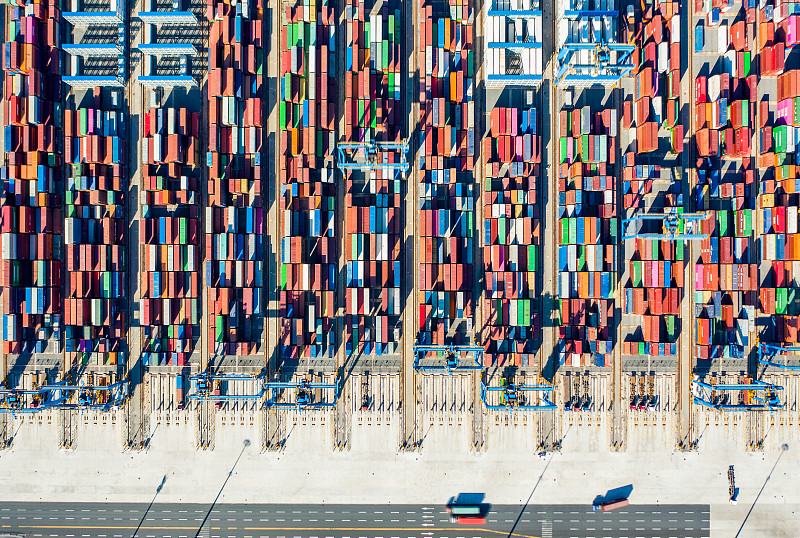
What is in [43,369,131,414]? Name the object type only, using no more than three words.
container crane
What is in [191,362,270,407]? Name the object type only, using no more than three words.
container crane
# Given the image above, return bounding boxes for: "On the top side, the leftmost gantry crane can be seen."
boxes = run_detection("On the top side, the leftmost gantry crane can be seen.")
[338,137,410,182]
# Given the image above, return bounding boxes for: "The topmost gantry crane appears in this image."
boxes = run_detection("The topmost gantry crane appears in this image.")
[551,37,631,88]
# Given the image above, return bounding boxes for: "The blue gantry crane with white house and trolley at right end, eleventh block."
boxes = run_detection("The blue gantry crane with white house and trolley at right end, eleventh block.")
[690,370,783,416]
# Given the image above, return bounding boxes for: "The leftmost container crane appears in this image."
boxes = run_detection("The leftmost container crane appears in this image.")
[0,370,66,416]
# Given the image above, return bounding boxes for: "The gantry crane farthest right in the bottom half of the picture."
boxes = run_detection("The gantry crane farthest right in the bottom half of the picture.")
[755,334,800,371]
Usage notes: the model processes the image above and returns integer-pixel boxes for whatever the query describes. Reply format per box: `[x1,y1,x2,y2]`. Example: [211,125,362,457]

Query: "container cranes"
[480,371,558,417]
[616,208,703,248]
[0,370,66,416]
[191,362,270,407]
[413,333,487,376]
[267,369,341,415]
[690,370,783,416]
[338,137,410,182]
[43,369,131,414]
[755,334,800,371]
